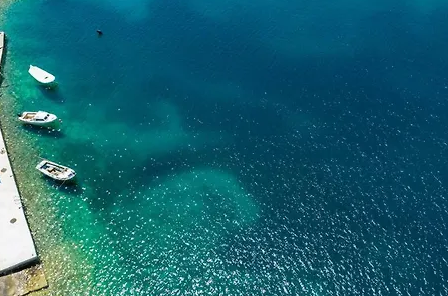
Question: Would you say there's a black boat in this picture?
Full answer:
No, the picture doesn't show any black boat.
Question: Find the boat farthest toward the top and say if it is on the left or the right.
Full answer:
It is on the left.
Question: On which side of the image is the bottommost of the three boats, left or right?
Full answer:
The bottommost of the three boats sits on the left side.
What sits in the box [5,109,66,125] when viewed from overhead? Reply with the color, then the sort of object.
white boat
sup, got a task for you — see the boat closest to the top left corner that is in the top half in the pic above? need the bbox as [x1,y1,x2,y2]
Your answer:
[25,62,68,86]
